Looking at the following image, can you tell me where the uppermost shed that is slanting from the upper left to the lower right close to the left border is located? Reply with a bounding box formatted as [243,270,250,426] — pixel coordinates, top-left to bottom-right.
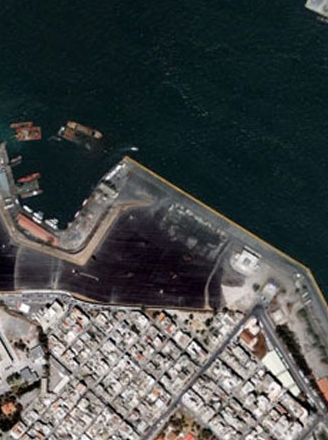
[16,214,59,245]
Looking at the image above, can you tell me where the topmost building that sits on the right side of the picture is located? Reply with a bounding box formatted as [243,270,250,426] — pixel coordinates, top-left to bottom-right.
[235,252,258,275]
